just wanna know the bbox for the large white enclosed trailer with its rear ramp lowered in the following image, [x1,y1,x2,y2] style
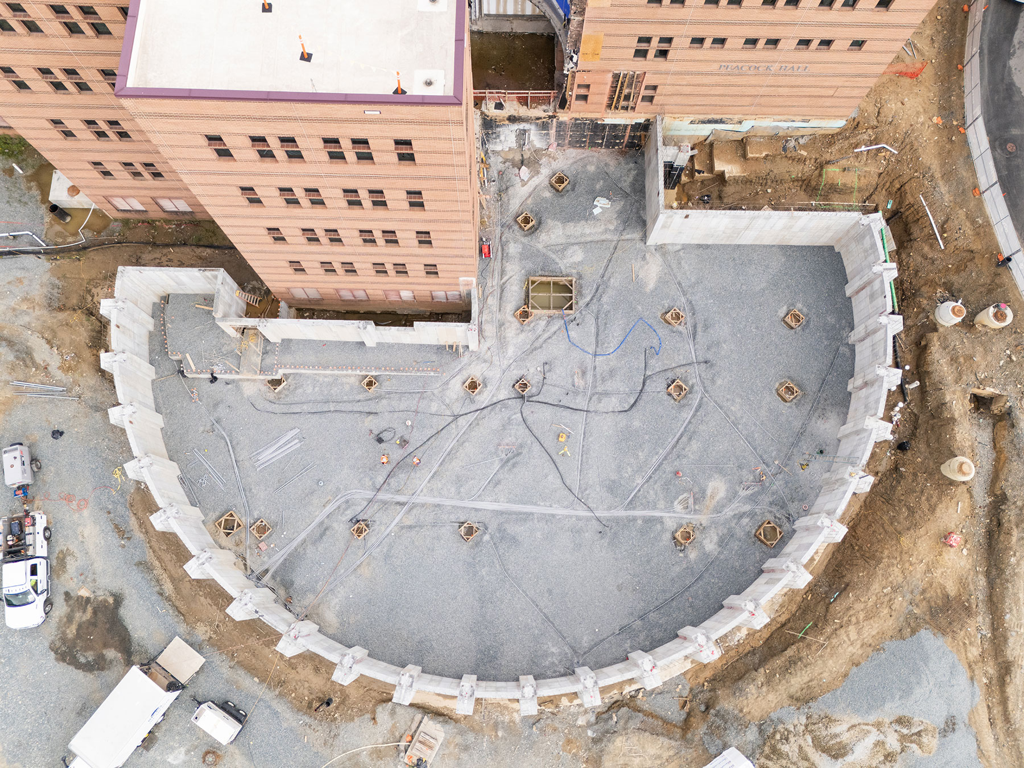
[69,630,211,768]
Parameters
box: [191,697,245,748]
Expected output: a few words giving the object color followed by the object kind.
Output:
white trailer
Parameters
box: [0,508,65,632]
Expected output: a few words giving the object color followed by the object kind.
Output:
white truck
